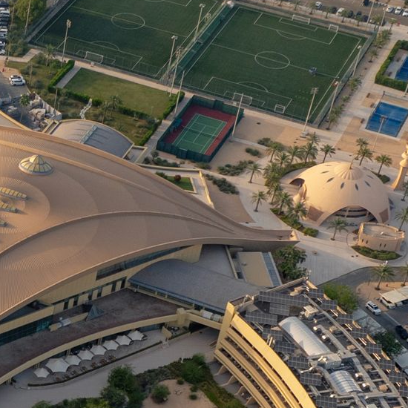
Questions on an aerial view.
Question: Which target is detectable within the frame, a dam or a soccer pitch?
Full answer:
There is a soccer pitch in the scene.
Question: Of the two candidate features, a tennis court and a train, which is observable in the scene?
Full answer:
I can see a tennis court in this picture.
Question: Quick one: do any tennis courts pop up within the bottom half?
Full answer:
No, there is no tennis court within the bottom half.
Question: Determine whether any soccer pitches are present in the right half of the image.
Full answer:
Yes, in the right half of the image there is a soccer pitch.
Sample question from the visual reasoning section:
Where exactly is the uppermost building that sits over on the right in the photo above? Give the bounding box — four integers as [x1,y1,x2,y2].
[298,155,395,220]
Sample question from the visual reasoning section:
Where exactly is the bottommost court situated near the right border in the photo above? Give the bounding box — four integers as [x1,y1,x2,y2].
[363,100,408,138]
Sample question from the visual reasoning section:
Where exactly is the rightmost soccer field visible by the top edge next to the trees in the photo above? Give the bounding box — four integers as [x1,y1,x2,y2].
[183,3,370,124]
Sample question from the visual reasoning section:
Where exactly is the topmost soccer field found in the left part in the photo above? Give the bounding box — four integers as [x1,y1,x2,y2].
[27,0,224,81]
